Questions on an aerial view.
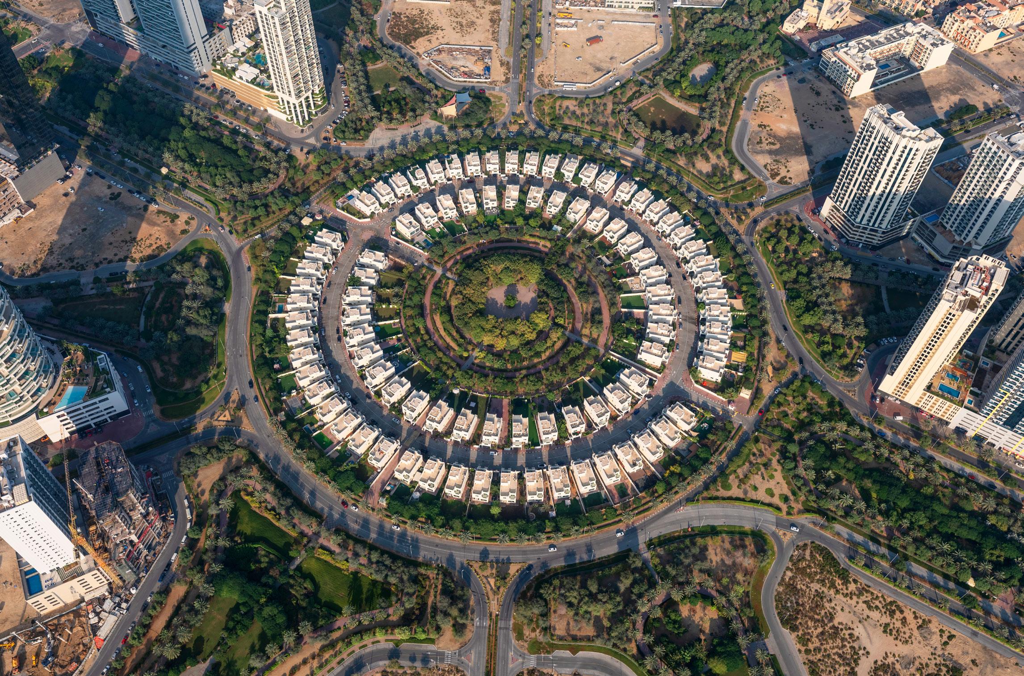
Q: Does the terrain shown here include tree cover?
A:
Yes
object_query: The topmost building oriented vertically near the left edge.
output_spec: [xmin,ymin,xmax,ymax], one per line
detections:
[0,36,61,166]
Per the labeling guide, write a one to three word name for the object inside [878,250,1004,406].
building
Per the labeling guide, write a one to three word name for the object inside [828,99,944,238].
building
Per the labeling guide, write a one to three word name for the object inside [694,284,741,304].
house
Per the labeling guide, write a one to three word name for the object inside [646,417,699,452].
house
